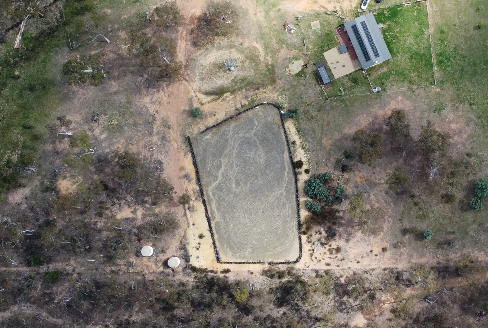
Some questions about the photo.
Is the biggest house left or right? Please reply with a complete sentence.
You can find the biggest house on the right side of the picture.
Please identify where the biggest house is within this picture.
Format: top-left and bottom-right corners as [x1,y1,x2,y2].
[335,13,392,69]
